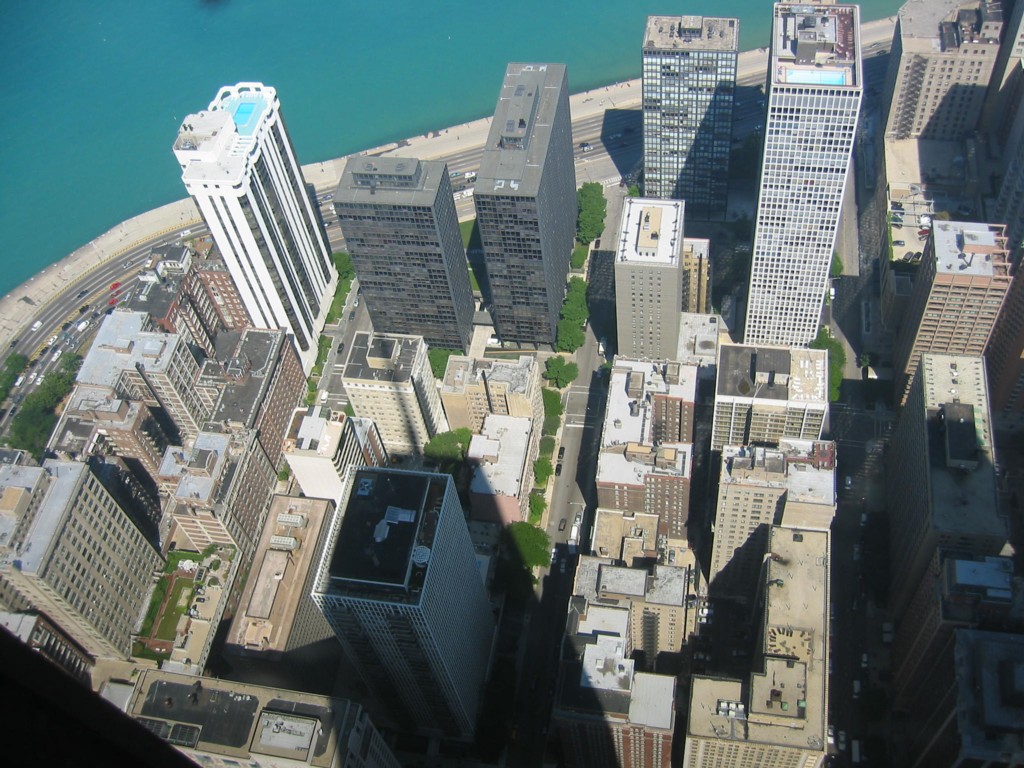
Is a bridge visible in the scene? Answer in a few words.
No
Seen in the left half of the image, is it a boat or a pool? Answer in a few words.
pool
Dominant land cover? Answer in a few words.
buildings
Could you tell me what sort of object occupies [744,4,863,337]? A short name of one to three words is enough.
building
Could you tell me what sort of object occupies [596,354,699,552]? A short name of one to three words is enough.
building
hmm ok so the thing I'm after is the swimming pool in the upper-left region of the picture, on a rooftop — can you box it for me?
[232,101,259,125]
